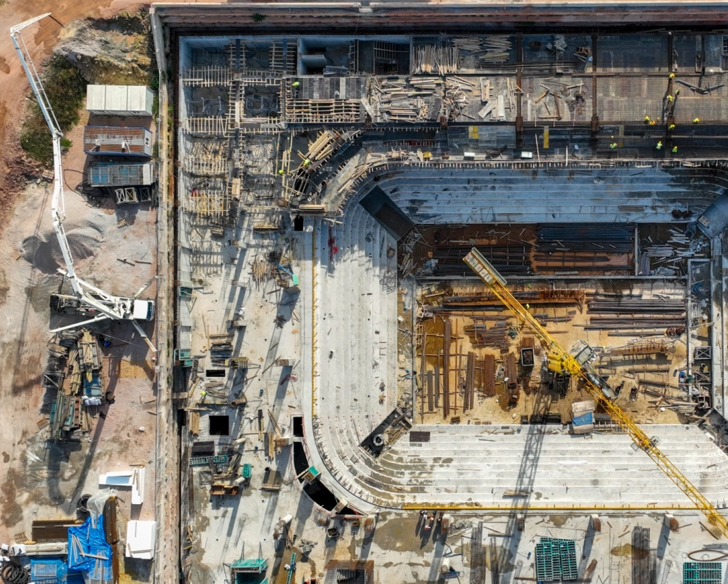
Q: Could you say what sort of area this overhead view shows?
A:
sports ground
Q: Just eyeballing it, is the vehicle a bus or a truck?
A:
truck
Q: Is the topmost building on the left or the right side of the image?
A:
left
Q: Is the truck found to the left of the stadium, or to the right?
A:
left of it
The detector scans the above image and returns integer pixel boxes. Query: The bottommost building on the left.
[87,162,159,188]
